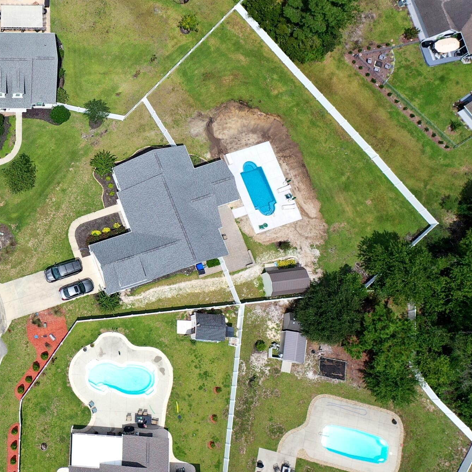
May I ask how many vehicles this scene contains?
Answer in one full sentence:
Altogether the scene contains 2 vehicles.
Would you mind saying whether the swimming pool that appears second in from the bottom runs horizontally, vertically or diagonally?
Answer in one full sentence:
The swimming pool that appears second in from the bottom is laid out horizontally.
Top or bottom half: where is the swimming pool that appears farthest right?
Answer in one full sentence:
The swimming pool that appears farthest right is in the bottom half of the image.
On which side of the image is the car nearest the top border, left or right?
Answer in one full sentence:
You can find the car nearest the top border on the left side of the picture.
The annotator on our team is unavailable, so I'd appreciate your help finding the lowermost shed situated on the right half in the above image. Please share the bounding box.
[274,331,307,363]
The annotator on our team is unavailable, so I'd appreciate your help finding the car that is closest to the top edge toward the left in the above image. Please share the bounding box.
[45,257,83,279]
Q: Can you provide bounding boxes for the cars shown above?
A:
[45,257,83,279]
[60,278,95,301]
